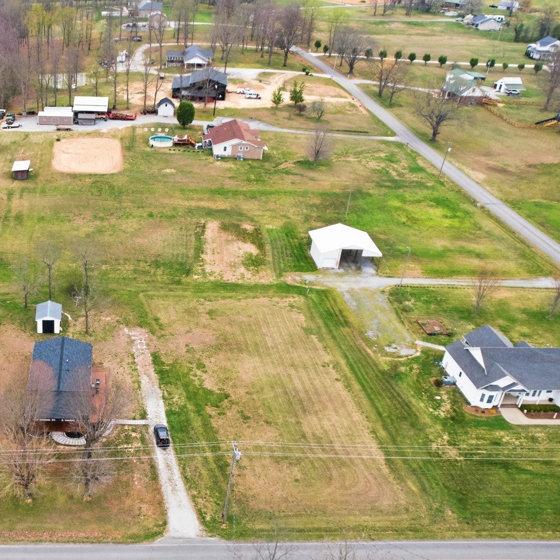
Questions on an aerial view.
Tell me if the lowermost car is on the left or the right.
left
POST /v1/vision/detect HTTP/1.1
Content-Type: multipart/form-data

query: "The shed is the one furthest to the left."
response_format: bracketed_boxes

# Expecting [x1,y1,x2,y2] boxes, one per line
[10,160,29,179]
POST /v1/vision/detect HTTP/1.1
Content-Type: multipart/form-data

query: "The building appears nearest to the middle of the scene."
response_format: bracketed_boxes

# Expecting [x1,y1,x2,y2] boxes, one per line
[306,223,382,269]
